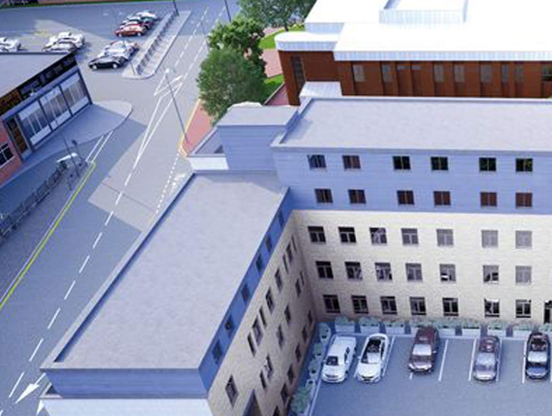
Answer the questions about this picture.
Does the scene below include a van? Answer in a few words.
Yes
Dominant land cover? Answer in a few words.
buildings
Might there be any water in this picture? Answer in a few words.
No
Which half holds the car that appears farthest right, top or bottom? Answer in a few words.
bottom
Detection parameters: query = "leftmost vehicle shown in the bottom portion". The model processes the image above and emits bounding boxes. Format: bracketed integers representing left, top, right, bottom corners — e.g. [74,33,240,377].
[320,325,357,380]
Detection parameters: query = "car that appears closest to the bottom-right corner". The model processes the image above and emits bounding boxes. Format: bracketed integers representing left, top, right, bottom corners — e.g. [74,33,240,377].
[522,329,552,379]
